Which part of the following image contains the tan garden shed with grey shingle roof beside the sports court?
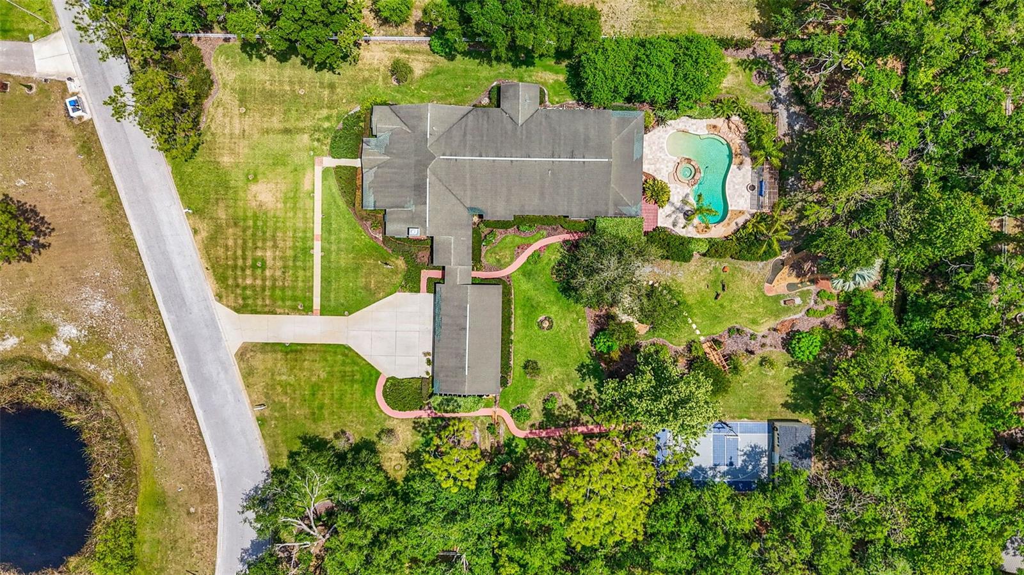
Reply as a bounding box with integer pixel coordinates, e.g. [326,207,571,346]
[773,421,814,476]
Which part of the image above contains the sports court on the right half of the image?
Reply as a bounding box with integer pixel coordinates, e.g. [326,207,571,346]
[657,421,773,491]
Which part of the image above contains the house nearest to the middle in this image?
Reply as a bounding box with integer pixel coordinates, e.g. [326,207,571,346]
[359,80,644,397]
